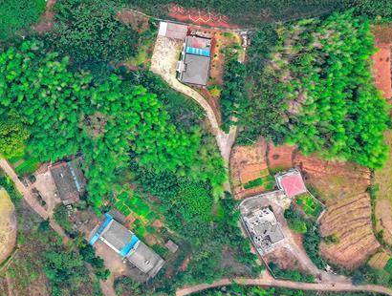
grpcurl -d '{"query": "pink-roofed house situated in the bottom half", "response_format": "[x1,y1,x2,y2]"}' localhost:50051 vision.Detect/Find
[280,173,306,197]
